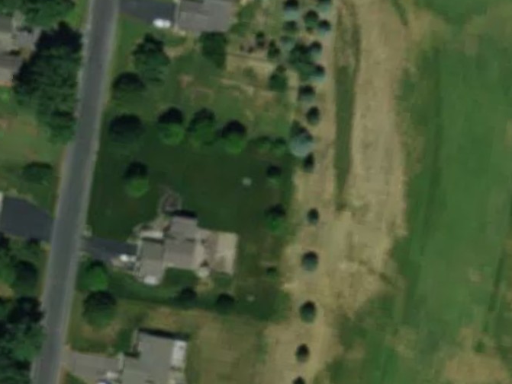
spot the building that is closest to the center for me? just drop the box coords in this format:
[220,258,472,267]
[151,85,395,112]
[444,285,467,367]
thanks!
[137,213,221,284]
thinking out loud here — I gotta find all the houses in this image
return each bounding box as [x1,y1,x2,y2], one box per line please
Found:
[119,333,187,384]
[176,0,239,34]
[137,213,221,284]
[0,14,21,84]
